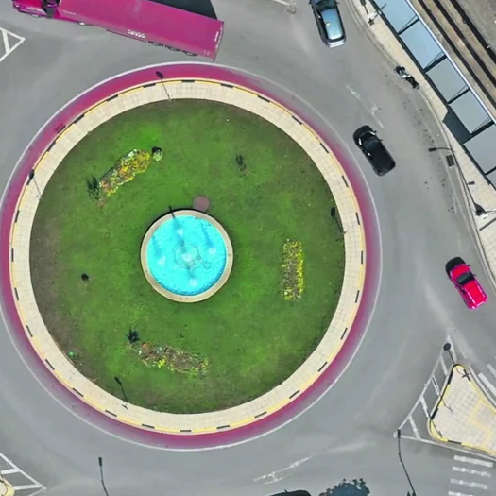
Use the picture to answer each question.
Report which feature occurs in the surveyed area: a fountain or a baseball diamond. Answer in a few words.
fountain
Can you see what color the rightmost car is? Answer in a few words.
red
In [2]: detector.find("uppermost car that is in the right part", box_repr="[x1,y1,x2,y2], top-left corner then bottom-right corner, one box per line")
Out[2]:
[309,0,346,48]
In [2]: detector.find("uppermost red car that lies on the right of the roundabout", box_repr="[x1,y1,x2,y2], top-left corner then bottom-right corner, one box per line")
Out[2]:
[450,261,490,311]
